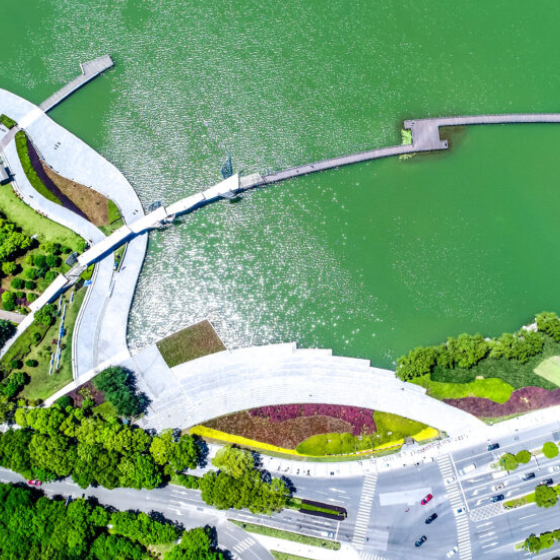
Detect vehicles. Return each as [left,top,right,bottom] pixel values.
[27,478,41,485]
[425,513,438,524]
[454,506,467,514]
[491,468,509,479]
[487,442,501,450]
[491,494,504,502]
[415,536,427,547]
[324,531,337,538]
[446,546,459,557]
[493,483,506,491]
[420,494,432,504]
[522,472,536,480]
[459,463,479,474]
[541,477,554,485]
